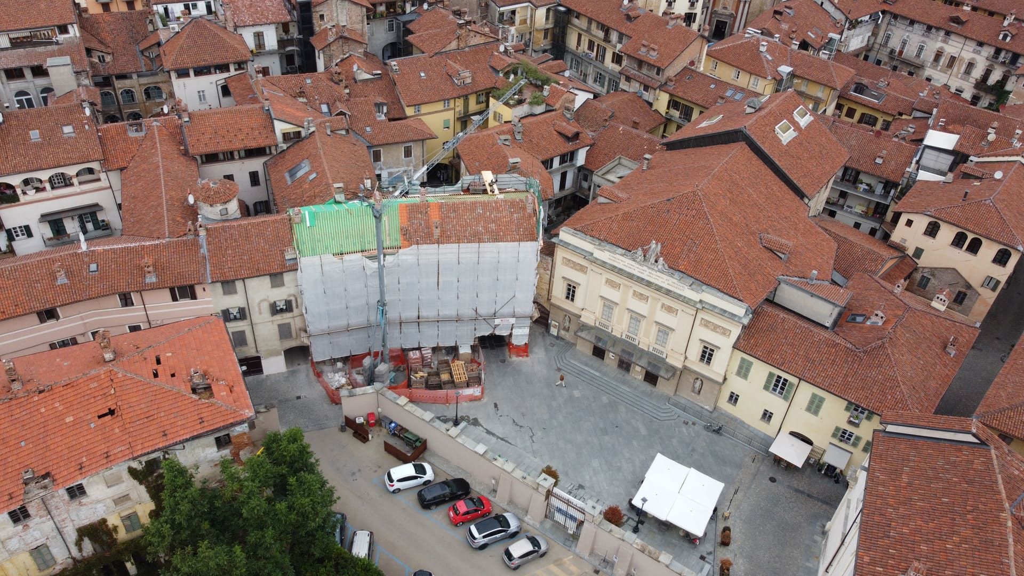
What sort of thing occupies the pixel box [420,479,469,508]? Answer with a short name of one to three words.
car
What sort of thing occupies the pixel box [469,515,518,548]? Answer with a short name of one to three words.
car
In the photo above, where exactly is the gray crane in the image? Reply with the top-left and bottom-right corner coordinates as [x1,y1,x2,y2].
[359,75,529,389]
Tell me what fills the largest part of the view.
buildings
